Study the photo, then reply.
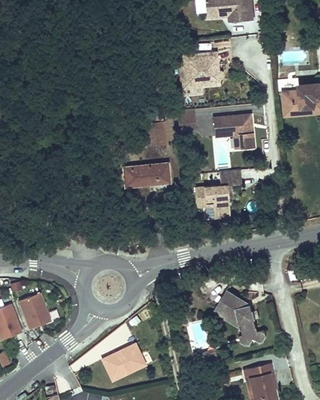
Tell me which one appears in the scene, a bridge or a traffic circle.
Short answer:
traffic circle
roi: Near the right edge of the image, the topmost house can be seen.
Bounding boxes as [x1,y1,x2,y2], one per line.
[282,82,320,118]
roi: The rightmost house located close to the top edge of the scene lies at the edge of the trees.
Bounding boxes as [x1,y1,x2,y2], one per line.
[208,0,256,23]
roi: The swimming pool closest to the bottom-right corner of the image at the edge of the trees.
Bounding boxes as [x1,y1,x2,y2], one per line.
[188,320,208,350]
